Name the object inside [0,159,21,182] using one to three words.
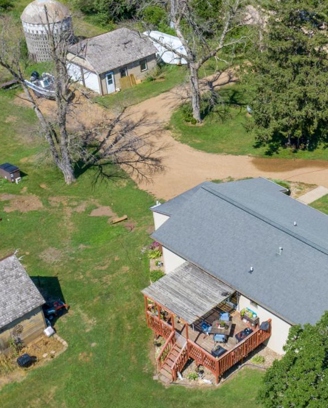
shed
